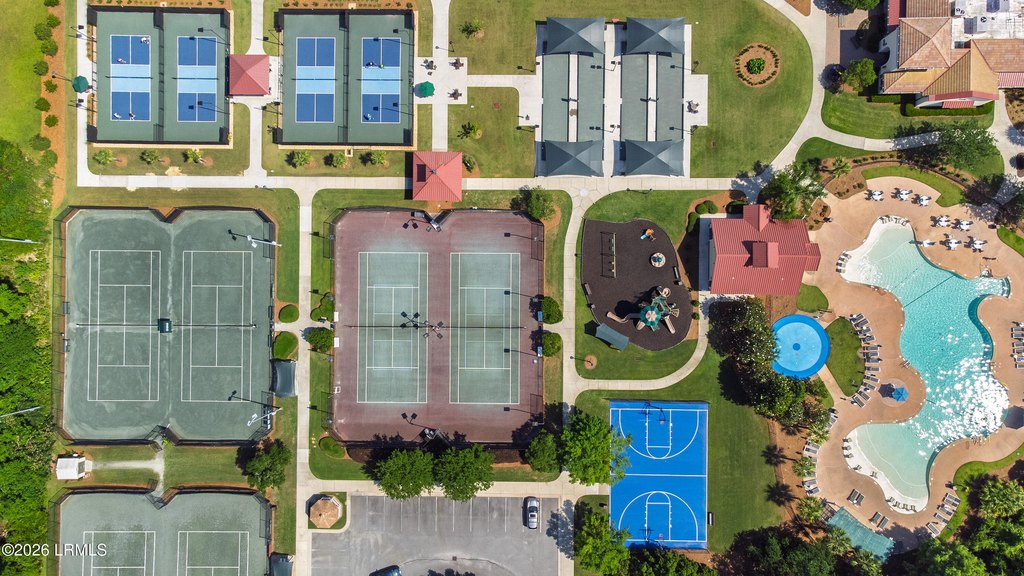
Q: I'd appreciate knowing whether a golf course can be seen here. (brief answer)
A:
No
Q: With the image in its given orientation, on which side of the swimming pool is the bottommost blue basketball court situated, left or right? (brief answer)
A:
left of it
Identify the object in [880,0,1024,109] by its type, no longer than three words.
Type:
building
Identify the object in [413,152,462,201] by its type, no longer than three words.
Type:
building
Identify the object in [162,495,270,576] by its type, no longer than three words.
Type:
tennis court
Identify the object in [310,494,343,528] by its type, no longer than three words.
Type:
gazebo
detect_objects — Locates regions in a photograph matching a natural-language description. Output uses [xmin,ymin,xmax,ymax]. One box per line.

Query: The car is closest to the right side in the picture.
[524,499,538,529]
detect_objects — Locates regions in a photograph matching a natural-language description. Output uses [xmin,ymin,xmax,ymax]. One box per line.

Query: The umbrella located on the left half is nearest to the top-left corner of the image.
[72,75,92,94]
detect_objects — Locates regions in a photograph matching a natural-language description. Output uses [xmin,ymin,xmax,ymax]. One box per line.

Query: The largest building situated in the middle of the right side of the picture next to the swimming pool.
[708,203,821,294]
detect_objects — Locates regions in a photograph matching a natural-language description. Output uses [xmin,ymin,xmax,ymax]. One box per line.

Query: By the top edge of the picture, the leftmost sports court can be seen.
[97,12,162,140]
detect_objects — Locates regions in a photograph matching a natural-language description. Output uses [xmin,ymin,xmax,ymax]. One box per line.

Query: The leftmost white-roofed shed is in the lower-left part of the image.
[54,455,94,479]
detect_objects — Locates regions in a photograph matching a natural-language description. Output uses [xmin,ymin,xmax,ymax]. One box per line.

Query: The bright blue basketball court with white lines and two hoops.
[610,401,708,550]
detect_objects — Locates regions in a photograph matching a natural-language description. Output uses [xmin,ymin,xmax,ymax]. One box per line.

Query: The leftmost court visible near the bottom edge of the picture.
[60,494,163,576]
